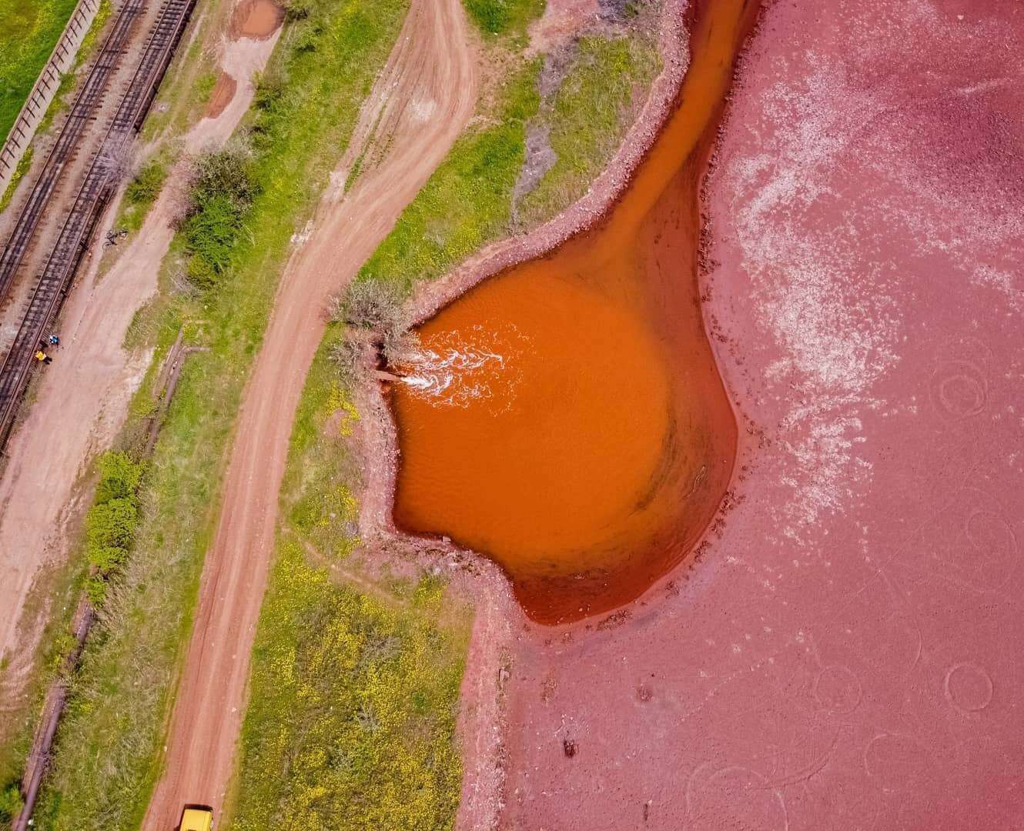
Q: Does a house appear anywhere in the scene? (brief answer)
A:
No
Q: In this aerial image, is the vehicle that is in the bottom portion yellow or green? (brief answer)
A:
yellow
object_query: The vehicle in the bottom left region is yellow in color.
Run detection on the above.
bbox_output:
[180,808,217,831]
